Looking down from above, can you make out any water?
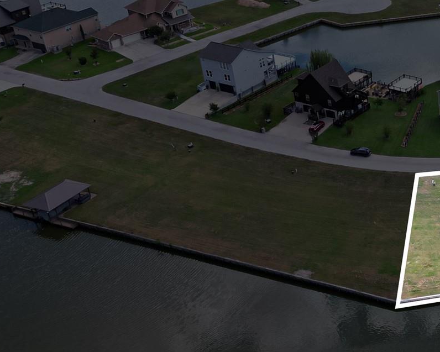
Yes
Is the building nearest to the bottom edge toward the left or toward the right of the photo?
left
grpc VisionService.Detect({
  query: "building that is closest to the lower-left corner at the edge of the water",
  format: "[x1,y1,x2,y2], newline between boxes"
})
[4,177,101,238]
